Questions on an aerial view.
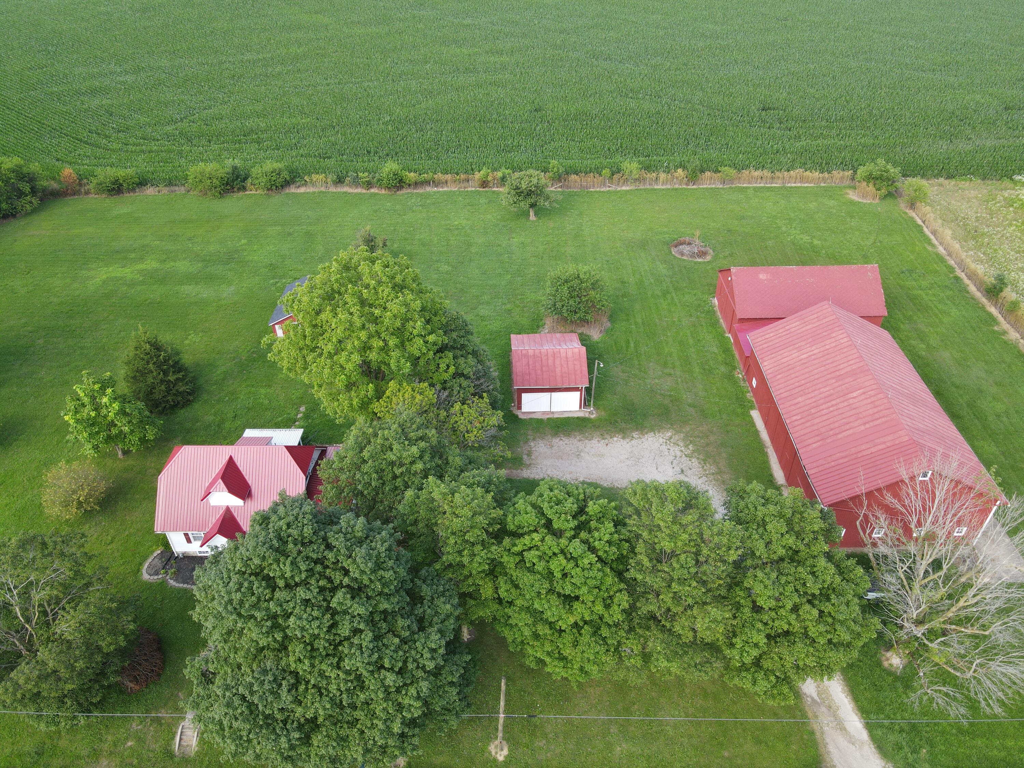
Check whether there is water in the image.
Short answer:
No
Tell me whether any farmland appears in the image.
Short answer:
Yes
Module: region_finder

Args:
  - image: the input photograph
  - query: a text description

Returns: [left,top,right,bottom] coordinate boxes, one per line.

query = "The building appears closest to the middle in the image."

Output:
[510,333,594,410]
